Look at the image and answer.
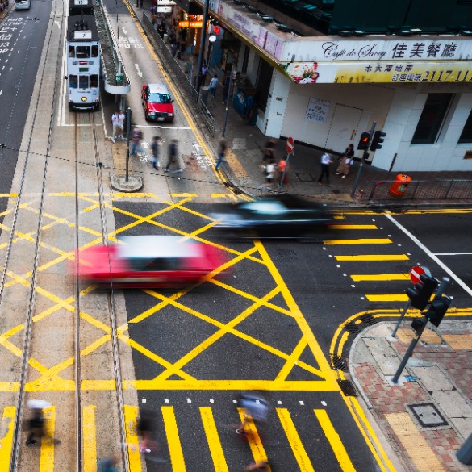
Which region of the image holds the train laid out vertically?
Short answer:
top left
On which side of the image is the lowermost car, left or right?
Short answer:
left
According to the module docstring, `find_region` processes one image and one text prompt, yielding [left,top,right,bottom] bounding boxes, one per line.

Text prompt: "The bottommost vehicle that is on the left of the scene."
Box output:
[81,222,226,285]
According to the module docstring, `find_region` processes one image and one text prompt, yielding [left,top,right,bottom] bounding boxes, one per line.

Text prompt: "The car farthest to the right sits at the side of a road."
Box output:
[202,180,339,235]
